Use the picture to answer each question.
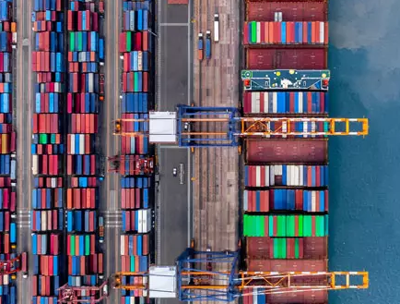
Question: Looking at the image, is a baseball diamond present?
No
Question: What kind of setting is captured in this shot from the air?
port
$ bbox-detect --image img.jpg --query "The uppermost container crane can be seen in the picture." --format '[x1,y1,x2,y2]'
[115,102,369,151]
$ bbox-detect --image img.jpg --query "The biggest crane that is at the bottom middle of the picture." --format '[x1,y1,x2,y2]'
[115,242,369,301]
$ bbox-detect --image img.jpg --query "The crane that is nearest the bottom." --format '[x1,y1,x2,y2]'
[62,277,112,302]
